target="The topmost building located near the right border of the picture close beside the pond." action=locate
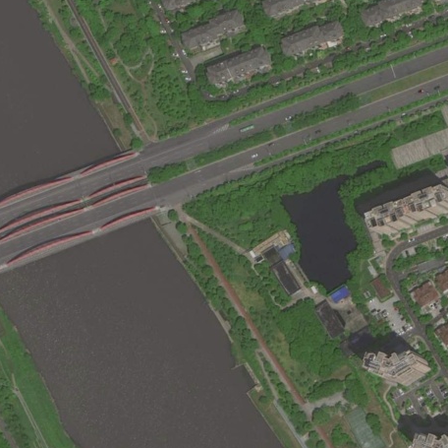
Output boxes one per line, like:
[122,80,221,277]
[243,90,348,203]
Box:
[364,185,448,237]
